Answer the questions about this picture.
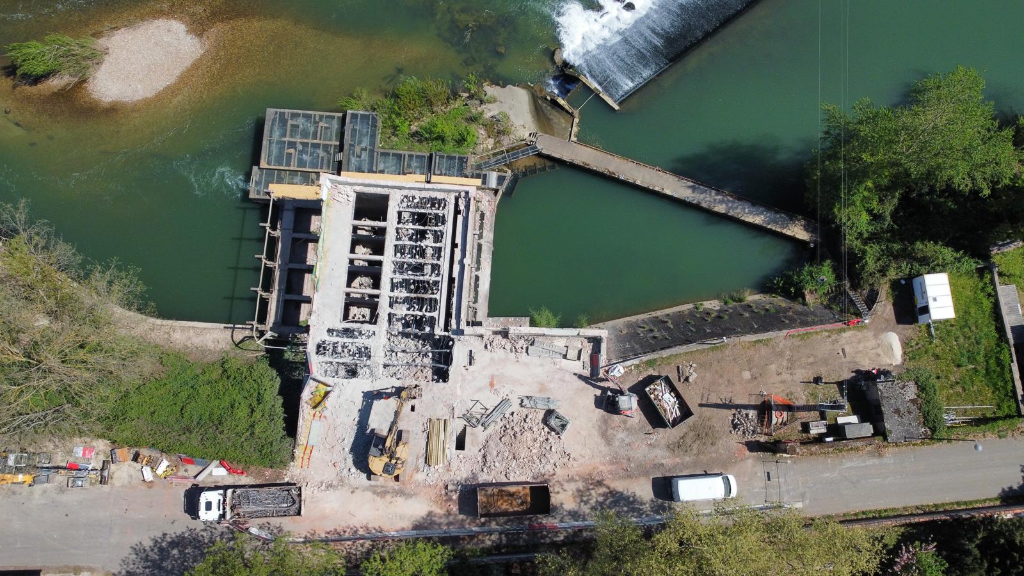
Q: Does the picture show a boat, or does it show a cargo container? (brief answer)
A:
cargo container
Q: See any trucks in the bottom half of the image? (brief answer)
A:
Yes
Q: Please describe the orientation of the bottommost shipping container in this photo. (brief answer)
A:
from side to side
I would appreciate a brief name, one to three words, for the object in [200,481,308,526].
truck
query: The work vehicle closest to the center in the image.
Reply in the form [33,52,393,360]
[604,368,639,417]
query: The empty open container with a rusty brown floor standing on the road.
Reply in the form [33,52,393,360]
[477,481,551,517]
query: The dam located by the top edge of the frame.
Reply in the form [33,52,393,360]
[572,0,760,106]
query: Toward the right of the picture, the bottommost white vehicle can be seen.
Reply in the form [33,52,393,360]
[670,471,738,502]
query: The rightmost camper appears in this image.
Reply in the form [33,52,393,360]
[908,274,954,340]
